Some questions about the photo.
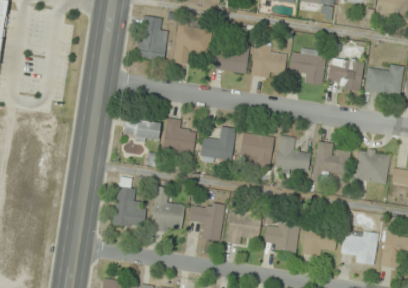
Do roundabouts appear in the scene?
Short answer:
No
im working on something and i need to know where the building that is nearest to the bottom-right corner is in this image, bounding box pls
[381,232,408,270]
